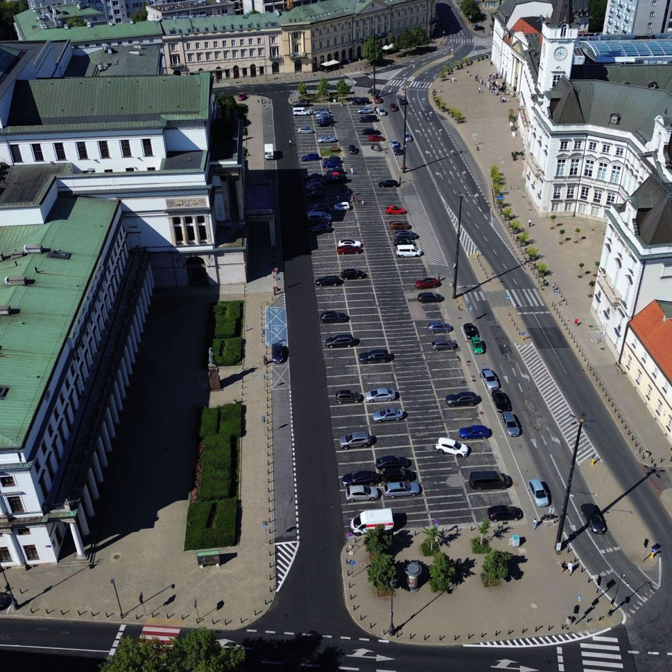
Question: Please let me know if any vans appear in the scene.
Yes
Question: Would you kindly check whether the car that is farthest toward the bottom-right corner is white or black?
black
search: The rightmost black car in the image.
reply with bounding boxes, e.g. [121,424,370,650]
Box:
[582,502,606,534]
